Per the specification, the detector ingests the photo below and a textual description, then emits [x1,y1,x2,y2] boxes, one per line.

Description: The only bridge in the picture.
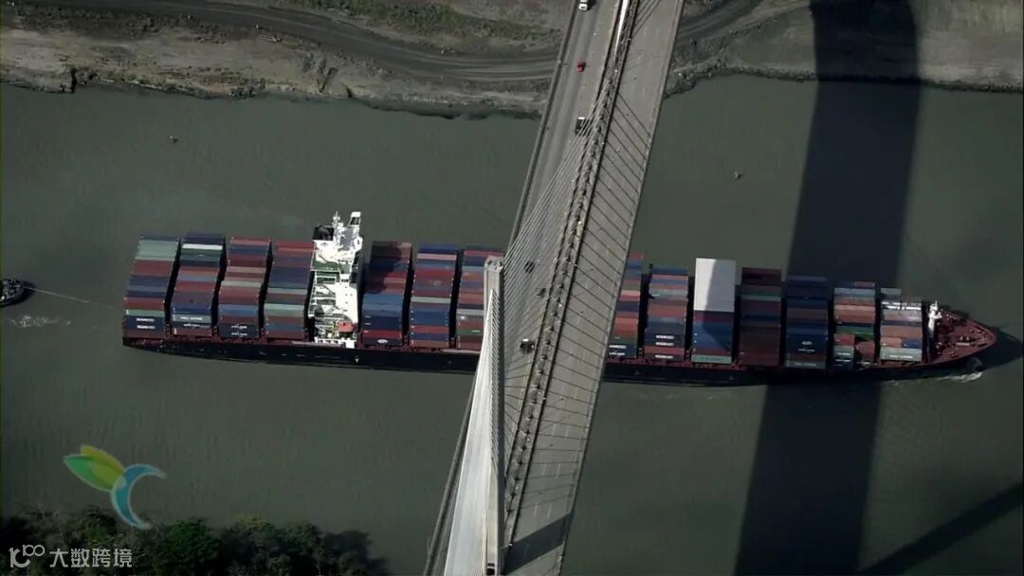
[426,0,683,576]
